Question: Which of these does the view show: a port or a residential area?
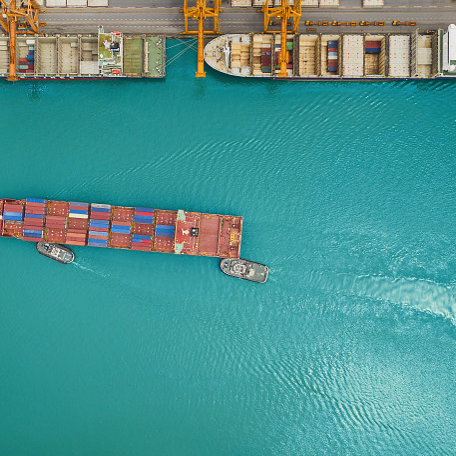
port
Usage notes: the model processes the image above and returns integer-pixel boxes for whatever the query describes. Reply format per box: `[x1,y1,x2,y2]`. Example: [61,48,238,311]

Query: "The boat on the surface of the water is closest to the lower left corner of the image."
[35,242,75,264]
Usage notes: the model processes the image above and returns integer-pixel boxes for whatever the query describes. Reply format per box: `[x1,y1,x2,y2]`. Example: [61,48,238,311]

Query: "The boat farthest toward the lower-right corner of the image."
[219,258,269,283]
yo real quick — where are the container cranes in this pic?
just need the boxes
[175,0,223,80]
[253,0,305,80]
[0,0,45,80]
